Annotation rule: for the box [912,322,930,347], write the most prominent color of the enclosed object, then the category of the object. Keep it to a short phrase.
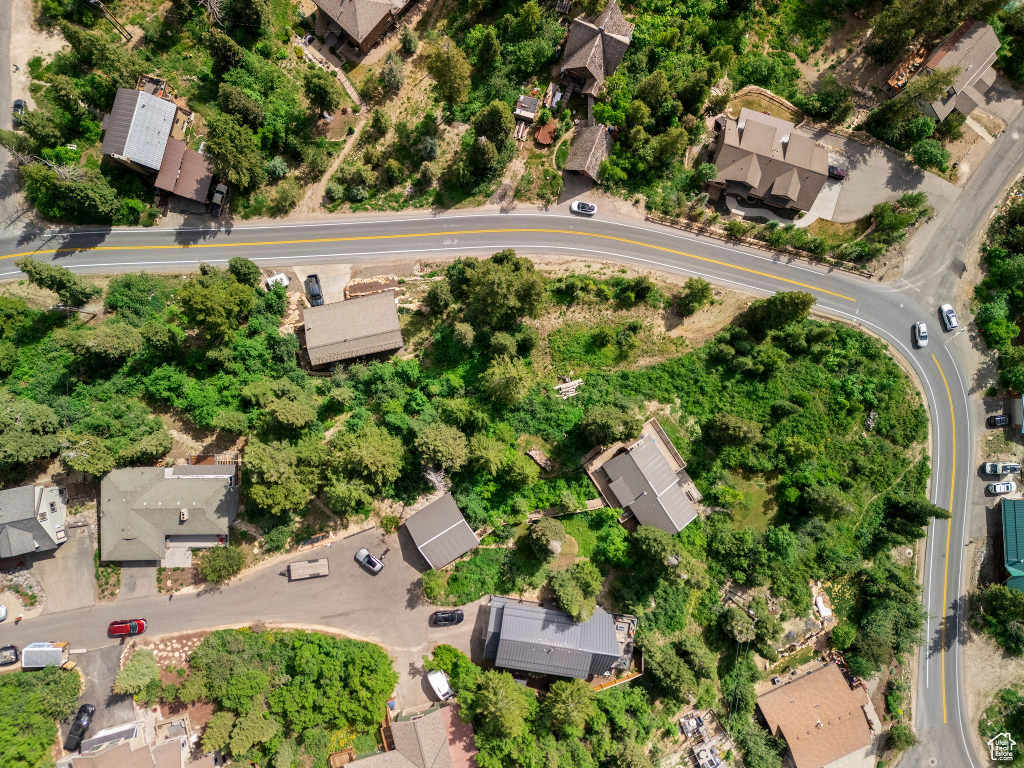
white car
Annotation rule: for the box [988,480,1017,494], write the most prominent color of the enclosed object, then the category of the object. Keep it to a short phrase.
white car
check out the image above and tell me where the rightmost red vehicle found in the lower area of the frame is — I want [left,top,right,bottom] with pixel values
[107,618,147,638]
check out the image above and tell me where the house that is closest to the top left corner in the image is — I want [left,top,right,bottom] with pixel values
[101,88,198,176]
